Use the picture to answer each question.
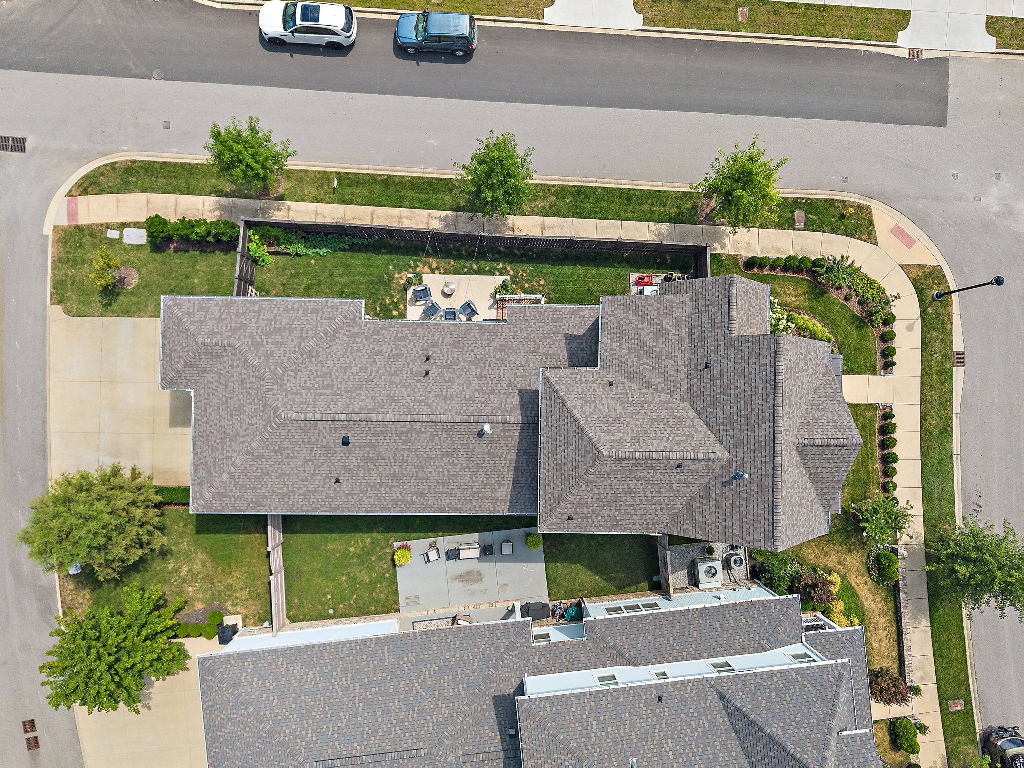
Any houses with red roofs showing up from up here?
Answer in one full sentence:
No, I find no house with a red roof anywhere in the image.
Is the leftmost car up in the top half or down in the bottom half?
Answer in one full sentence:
The top half of the photo is where the leftmost car is.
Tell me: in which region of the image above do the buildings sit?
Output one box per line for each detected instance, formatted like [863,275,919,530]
[196,579,884,768]
[160,276,863,553]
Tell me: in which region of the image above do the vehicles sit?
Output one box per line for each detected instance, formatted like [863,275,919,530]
[396,9,477,59]
[261,0,357,51]
[991,730,1024,768]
